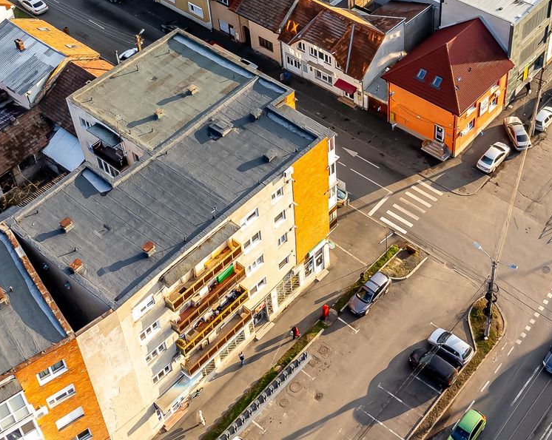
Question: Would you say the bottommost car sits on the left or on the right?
right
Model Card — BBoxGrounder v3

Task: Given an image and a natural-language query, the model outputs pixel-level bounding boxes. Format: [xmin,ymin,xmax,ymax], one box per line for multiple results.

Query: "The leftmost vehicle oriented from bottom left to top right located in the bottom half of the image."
[345,268,393,318]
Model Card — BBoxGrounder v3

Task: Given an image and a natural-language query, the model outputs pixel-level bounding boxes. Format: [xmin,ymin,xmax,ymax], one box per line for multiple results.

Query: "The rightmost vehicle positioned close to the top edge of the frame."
[156,16,192,35]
